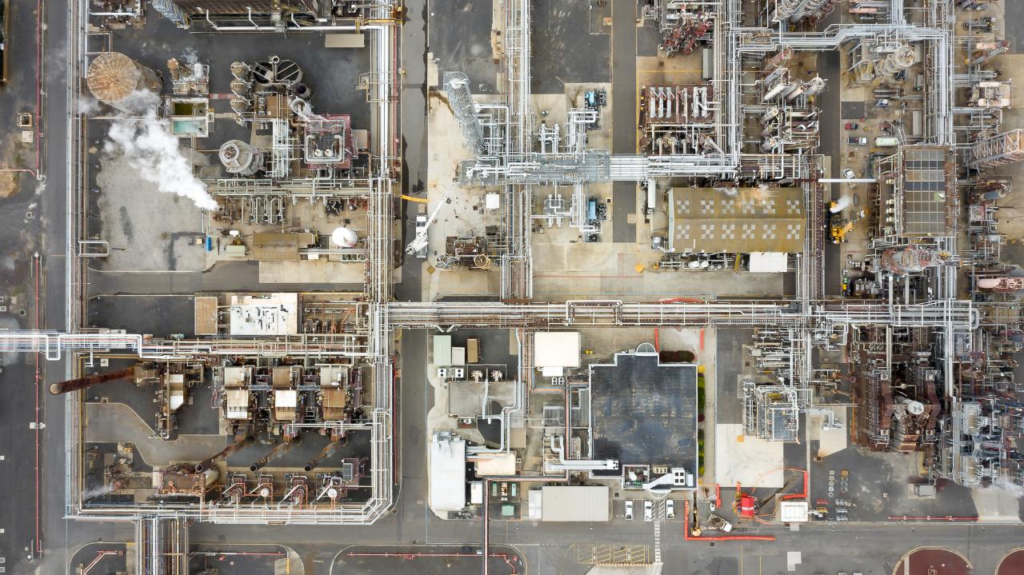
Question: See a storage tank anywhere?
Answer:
Yes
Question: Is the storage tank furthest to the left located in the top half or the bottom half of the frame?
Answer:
top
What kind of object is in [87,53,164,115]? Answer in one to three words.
storage tank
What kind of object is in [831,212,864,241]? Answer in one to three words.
crane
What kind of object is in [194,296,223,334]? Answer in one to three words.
building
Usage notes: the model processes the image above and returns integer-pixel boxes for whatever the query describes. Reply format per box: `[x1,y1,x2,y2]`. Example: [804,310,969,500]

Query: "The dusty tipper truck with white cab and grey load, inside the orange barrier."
[706,513,734,534]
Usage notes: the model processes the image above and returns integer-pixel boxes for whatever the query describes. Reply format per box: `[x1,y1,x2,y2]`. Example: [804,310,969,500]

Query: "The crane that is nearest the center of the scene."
[404,197,452,258]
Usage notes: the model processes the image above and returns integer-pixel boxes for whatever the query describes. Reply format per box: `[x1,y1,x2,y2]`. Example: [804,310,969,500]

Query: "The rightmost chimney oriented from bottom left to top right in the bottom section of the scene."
[304,430,346,472]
